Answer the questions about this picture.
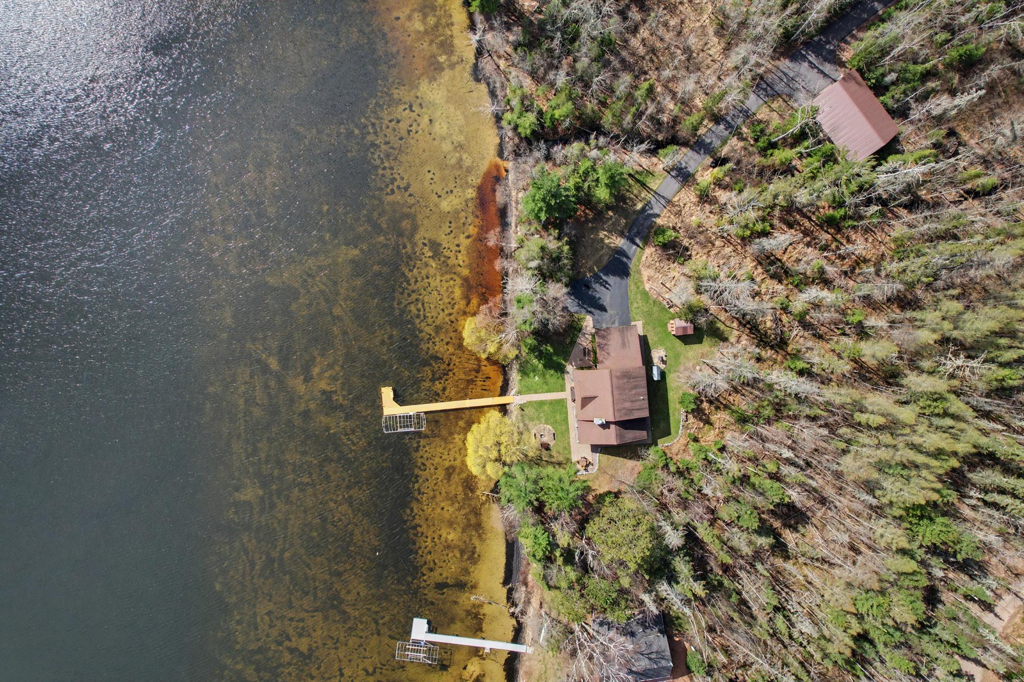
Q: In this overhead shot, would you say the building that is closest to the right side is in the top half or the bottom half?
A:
top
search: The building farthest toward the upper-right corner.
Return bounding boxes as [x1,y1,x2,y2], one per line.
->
[809,71,899,163]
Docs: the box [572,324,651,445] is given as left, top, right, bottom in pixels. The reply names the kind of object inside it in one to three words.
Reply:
house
